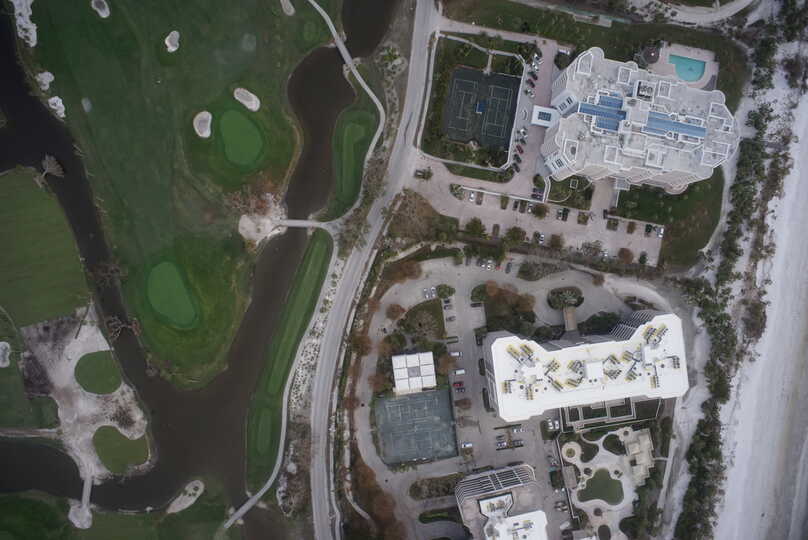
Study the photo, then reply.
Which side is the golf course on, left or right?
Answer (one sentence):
You can find the golf course on the left side of the picture.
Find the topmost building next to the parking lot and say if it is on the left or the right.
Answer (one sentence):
It is on the right.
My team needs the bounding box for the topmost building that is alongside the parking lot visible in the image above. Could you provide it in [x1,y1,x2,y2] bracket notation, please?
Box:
[534,46,742,198]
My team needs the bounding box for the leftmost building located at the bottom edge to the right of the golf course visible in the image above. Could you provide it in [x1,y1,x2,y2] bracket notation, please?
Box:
[458,466,547,540]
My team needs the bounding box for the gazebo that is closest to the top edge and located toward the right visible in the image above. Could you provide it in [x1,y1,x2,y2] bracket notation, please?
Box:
[642,47,659,64]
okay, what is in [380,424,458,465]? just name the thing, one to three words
tennis court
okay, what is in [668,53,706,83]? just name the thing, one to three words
swimming pool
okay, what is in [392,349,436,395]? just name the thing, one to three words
building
